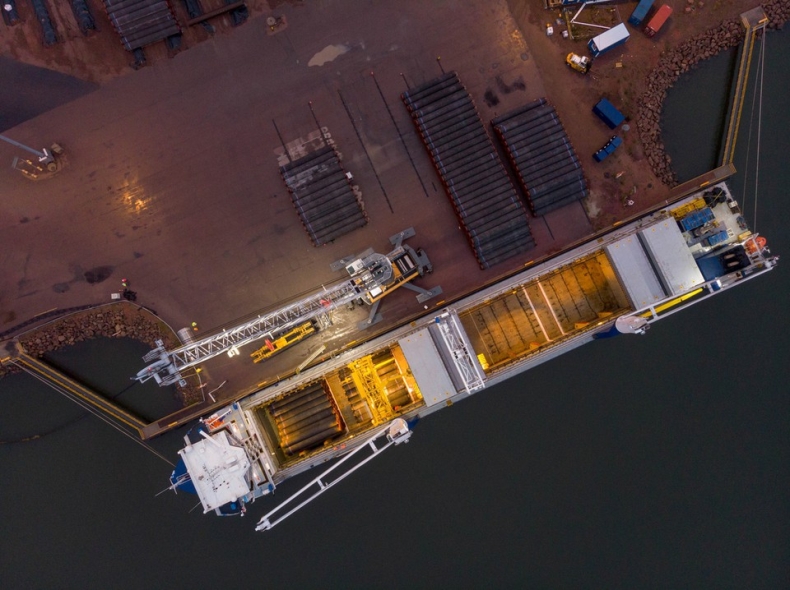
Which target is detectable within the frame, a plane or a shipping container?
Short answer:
shipping container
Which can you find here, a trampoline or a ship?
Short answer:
ship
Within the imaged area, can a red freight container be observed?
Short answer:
Yes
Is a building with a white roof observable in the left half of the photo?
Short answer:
No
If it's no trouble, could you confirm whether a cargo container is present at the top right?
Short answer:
Yes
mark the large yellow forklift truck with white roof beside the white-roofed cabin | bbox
[565,53,592,76]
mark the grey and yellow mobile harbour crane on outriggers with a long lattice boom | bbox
[134,228,442,389]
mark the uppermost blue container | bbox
[626,0,653,29]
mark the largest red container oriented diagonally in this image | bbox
[643,4,671,37]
